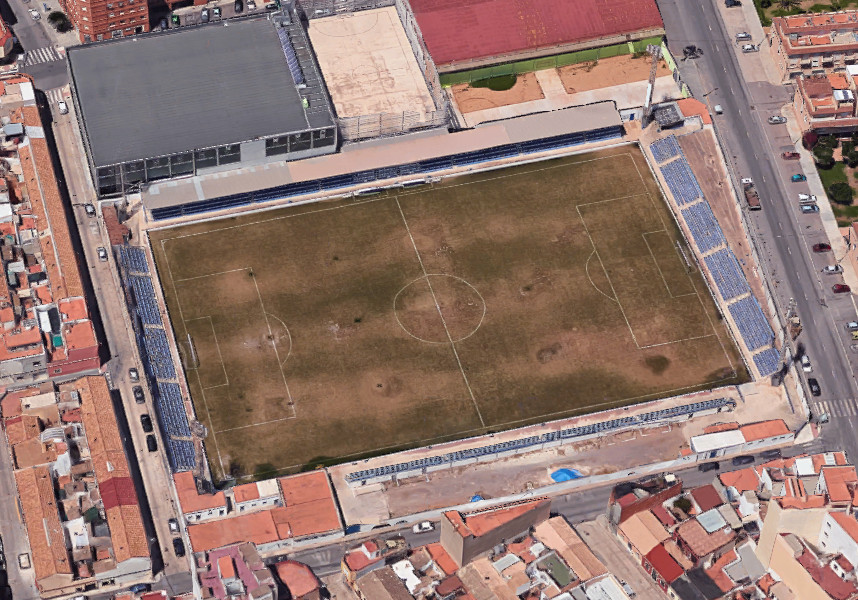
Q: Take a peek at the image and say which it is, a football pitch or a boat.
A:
football pitch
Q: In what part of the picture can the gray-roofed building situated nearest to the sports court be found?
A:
top left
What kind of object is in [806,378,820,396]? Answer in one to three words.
car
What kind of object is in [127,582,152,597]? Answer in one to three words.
car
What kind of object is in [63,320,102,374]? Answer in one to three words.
house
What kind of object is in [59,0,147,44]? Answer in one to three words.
building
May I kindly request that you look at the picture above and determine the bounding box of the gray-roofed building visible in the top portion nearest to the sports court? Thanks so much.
[62,6,340,201]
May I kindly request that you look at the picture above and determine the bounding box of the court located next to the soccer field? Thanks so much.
[305,8,443,137]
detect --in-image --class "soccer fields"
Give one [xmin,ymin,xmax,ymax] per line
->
[147,142,754,492]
